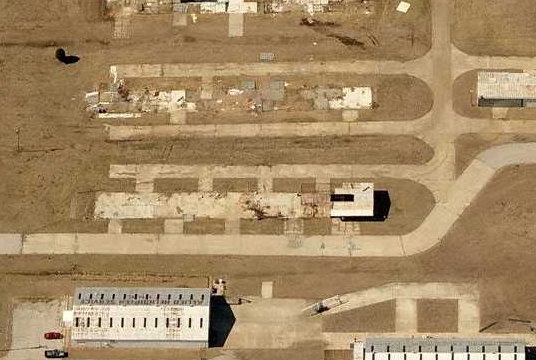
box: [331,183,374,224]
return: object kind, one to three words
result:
shed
